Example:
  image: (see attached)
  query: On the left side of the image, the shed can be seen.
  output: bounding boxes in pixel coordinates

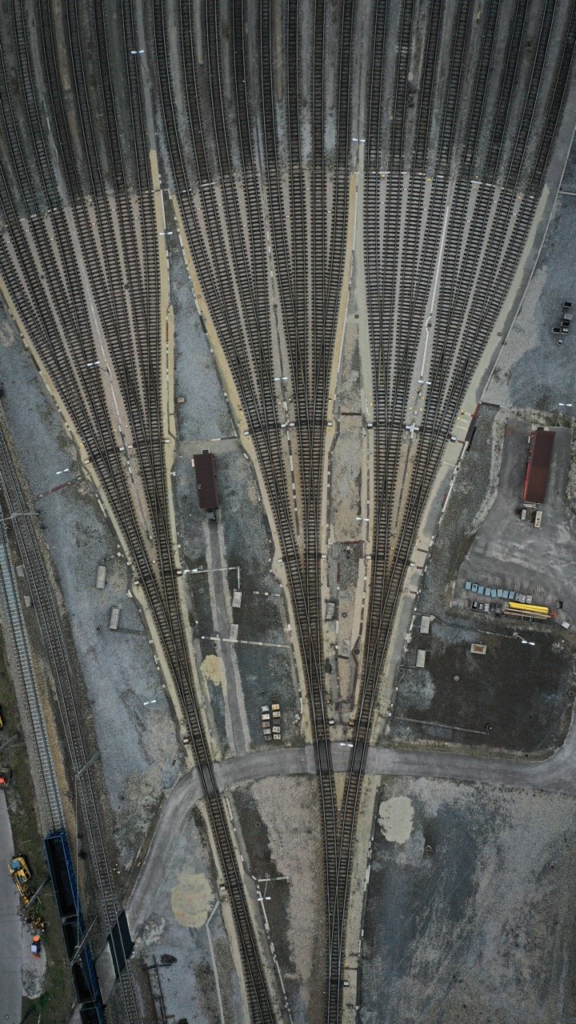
[194,454,218,510]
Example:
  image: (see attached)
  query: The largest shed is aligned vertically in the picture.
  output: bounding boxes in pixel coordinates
[518,431,555,503]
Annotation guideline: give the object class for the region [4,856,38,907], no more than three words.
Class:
work vehicle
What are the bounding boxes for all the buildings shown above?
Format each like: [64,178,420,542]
[194,454,218,510]
[518,431,555,503]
